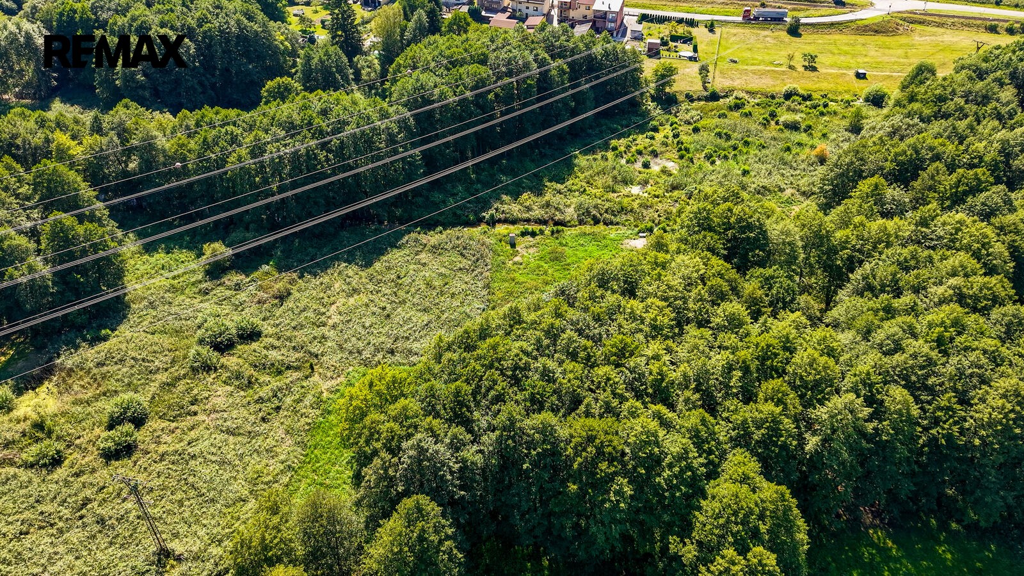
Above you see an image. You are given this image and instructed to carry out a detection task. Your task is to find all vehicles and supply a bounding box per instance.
[742,9,790,22]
